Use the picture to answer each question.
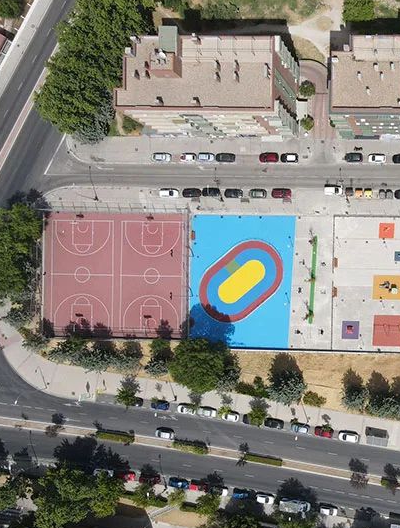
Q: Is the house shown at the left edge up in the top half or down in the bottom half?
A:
top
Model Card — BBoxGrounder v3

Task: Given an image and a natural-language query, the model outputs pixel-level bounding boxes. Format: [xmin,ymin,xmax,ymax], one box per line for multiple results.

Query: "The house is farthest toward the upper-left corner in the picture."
[0,35,21,69]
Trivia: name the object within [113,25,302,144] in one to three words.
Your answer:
building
